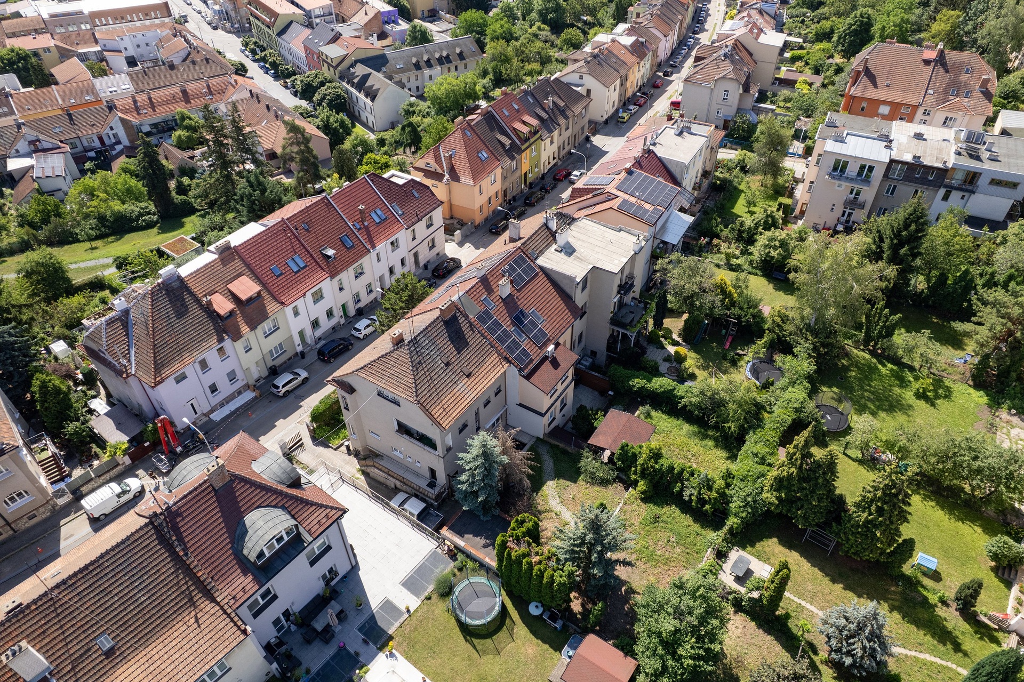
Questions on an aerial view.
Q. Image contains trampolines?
Yes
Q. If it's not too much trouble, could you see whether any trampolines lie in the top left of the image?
No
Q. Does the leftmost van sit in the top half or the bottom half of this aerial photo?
bottom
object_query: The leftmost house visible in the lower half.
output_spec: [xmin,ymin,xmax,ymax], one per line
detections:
[0,426,50,524]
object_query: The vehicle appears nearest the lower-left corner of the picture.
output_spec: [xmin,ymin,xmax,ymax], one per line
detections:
[81,481,143,522]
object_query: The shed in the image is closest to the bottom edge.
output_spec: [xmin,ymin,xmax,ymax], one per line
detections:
[561,634,634,682]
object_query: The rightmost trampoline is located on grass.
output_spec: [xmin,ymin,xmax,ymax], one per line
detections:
[816,390,861,436]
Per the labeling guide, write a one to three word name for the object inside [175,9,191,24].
vehicle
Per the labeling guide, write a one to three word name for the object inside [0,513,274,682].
house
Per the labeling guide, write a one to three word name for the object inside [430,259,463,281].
car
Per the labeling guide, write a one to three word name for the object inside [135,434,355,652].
house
